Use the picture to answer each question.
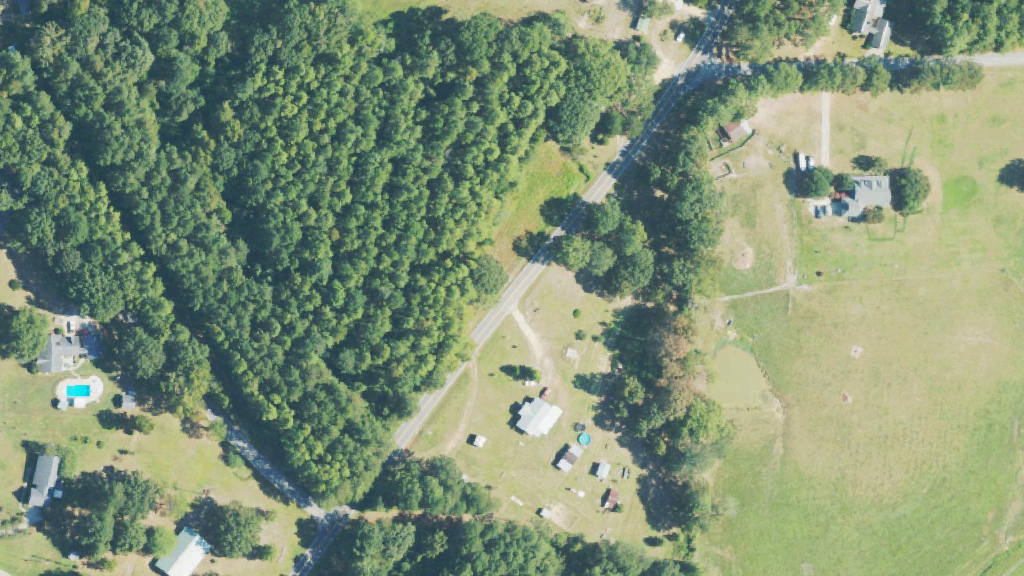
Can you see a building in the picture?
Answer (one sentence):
Yes, the photo shows a building.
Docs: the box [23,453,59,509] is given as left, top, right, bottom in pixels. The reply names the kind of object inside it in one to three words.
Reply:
house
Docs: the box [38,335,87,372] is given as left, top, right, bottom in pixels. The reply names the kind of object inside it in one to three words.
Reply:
house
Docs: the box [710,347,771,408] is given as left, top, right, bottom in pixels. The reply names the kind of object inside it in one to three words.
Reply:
pond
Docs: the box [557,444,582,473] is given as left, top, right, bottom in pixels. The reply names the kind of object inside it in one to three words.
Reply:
barn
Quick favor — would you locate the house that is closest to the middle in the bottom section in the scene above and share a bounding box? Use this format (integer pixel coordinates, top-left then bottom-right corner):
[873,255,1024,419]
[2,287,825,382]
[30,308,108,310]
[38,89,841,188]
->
[516,394,564,438]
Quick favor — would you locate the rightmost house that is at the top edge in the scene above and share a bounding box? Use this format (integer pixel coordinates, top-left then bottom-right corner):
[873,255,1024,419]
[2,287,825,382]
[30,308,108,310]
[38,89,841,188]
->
[847,0,894,50]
